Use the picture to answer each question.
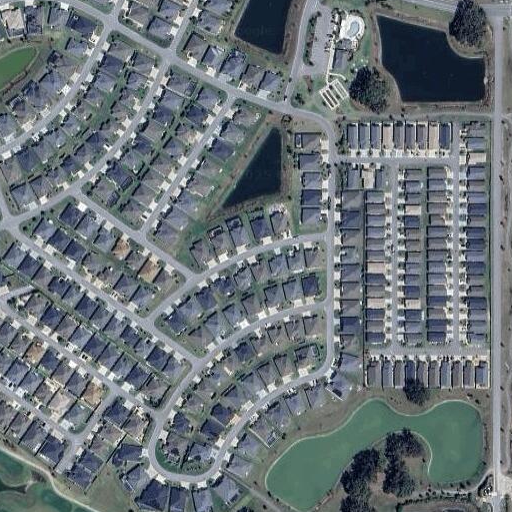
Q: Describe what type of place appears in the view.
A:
residential area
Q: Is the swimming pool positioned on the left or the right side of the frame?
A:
right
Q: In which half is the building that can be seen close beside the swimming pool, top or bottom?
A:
top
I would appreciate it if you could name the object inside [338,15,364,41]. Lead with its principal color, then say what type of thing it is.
white swimming pool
